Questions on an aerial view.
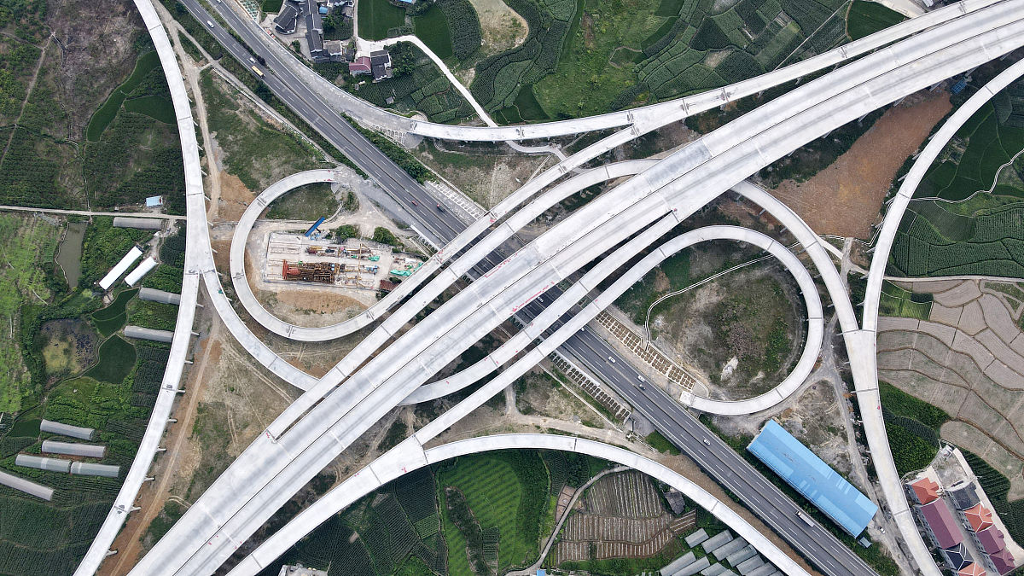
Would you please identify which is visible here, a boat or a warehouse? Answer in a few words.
warehouse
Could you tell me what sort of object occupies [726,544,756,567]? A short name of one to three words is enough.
greenhouse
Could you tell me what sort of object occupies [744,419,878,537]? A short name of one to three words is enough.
warehouse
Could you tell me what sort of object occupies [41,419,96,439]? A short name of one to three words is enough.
greenhouse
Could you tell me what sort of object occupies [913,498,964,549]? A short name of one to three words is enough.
house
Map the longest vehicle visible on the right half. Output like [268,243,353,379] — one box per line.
[795,510,817,529]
